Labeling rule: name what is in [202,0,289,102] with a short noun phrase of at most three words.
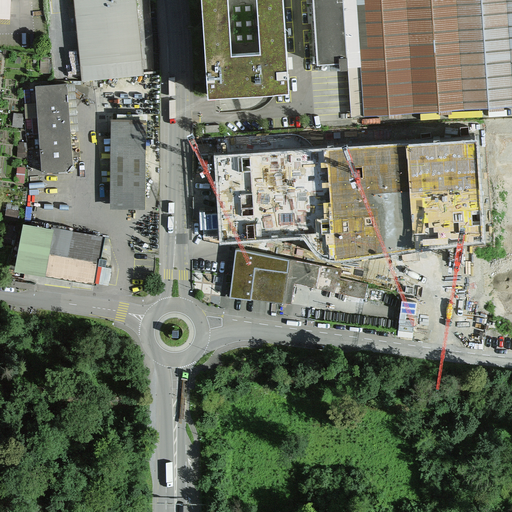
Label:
building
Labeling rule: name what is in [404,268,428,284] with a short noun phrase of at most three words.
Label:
vehicle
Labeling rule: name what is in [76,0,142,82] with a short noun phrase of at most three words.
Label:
building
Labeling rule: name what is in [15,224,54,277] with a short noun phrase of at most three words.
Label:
shed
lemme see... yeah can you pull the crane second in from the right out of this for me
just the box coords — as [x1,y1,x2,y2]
[344,146,416,324]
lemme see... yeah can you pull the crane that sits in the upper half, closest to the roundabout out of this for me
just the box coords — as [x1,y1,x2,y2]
[186,135,252,264]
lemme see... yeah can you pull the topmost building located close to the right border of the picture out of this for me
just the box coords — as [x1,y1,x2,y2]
[356,0,512,118]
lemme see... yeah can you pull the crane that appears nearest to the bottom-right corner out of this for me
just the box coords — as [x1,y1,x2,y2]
[436,229,466,390]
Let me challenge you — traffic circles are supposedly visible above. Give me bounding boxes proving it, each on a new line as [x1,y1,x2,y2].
[138,296,212,368]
